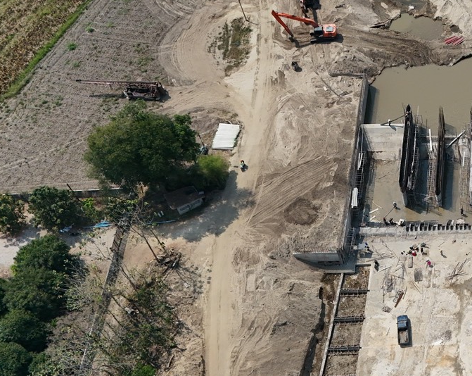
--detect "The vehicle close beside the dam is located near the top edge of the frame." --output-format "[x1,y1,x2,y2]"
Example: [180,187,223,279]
[269,7,340,43]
